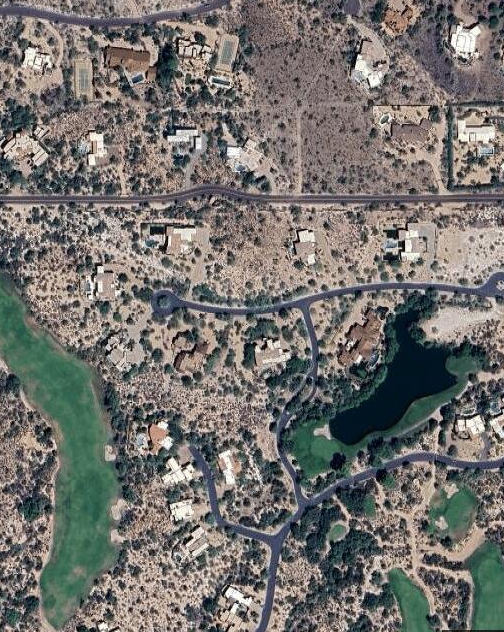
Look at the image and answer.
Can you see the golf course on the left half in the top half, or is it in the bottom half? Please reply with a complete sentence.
You can find the golf course on the left half in the bottom half.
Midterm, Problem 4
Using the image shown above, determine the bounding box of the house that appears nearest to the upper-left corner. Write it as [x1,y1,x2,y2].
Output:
[21,46,55,74]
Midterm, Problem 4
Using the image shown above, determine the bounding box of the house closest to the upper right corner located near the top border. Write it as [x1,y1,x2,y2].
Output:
[449,24,483,59]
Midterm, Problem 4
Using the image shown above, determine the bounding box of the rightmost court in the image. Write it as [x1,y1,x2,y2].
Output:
[216,34,238,71]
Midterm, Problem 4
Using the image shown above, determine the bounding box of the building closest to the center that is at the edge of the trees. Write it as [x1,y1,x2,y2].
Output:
[255,338,291,366]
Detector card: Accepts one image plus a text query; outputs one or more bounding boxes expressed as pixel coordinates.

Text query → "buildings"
[219,586,253,632]
[178,39,213,62]
[255,338,291,366]
[457,414,485,435]
[85,265,121,303]
[226,139,265,173]
[398,230,428,263]
[170,499,194,522]
[294,229,316,266]
[167,456,195,485]
[87,132,108,167]
[384,7,414,35]
[21,46,55,74]
[148,419,175,454]
[338,312,383,365]
[184,525,211,559]
[457,119,496,146]
[166,226,197,256]
[174,336,210,372]
[352,39,384,90]
[218,448,242,485]
[106,46,157,82]
[3,132,50,168]
[105,336,133,372]
[97,621,121,632]
[449,24,483,59]
[488,408,504,439]
[390,116,434,141]
[166,129,202,151]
